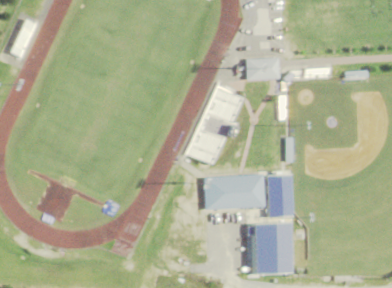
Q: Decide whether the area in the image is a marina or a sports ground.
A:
sports ground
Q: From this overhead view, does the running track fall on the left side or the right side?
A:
left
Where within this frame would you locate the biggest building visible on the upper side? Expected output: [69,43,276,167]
[245,58,280,82]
